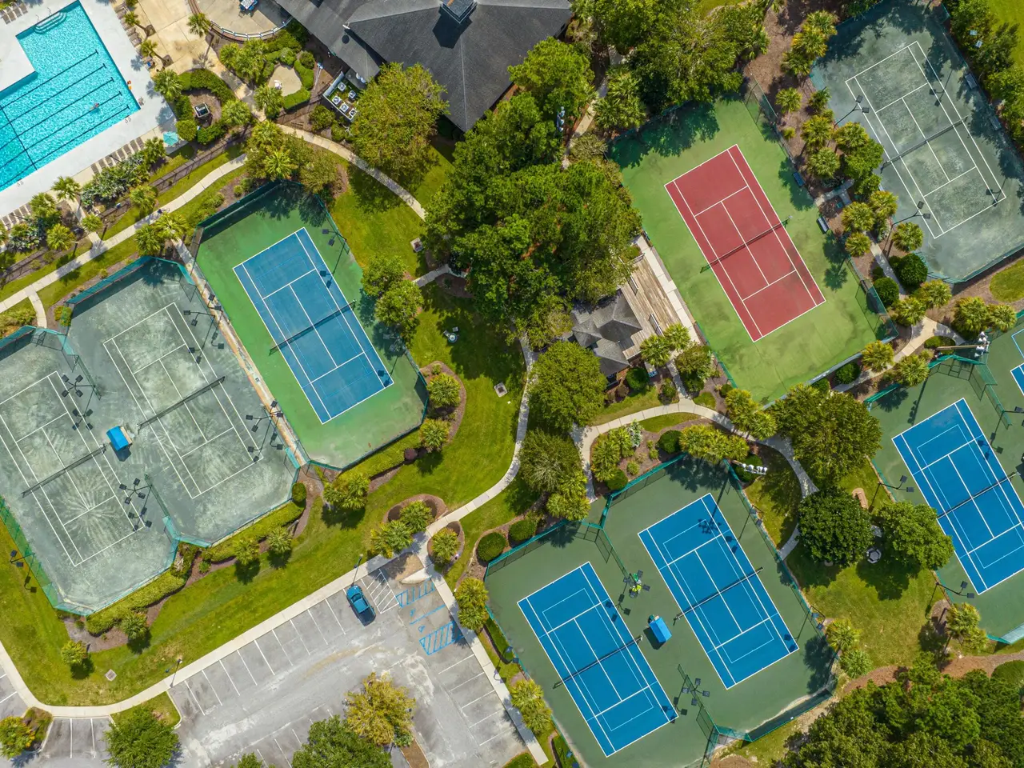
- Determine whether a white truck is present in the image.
No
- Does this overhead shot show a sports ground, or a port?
sports ground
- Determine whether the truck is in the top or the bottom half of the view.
bottom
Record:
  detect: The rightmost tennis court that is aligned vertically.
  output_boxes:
[976,320,1024,440]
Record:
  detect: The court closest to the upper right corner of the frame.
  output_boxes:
[803,8,1024,282]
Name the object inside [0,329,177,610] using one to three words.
tennis court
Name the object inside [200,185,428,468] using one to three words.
tennis court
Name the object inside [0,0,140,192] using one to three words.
swimming pool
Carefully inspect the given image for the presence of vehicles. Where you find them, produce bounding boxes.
[347,586,379,630]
